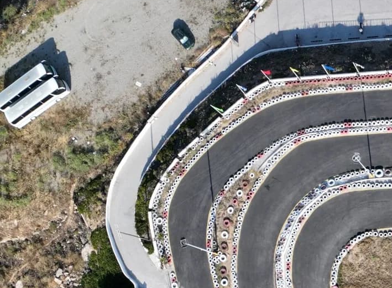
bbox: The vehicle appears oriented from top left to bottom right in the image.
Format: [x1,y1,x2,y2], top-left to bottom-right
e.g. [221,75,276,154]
[170,19,196,50]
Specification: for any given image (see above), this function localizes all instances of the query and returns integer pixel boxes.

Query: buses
[2,74,73,129]
[0,57,62,111]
